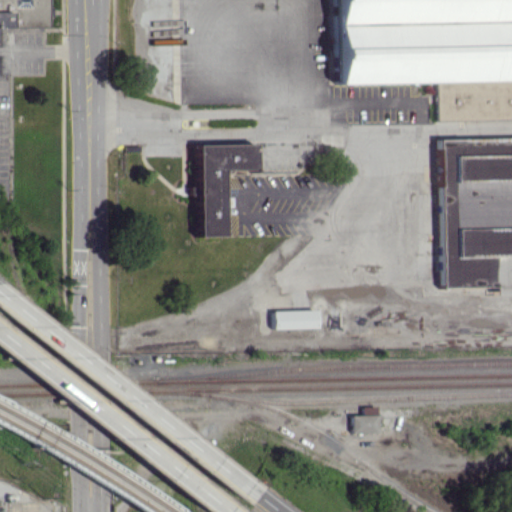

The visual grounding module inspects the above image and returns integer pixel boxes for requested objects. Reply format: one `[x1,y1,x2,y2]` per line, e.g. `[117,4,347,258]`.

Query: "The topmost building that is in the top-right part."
[333,0,512,87]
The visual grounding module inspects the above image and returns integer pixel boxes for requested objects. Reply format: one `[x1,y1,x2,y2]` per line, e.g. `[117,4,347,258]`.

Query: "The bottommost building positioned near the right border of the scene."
[438,140,512,288]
